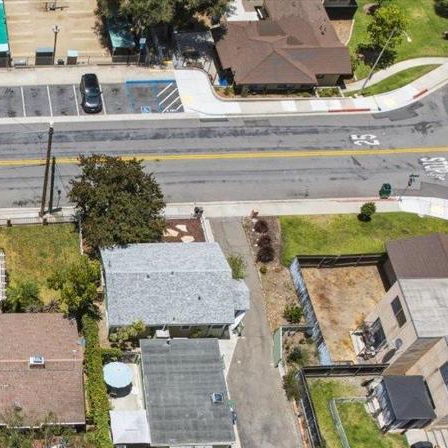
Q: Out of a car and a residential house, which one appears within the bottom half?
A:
residential house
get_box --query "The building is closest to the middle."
[100,242,249,342]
